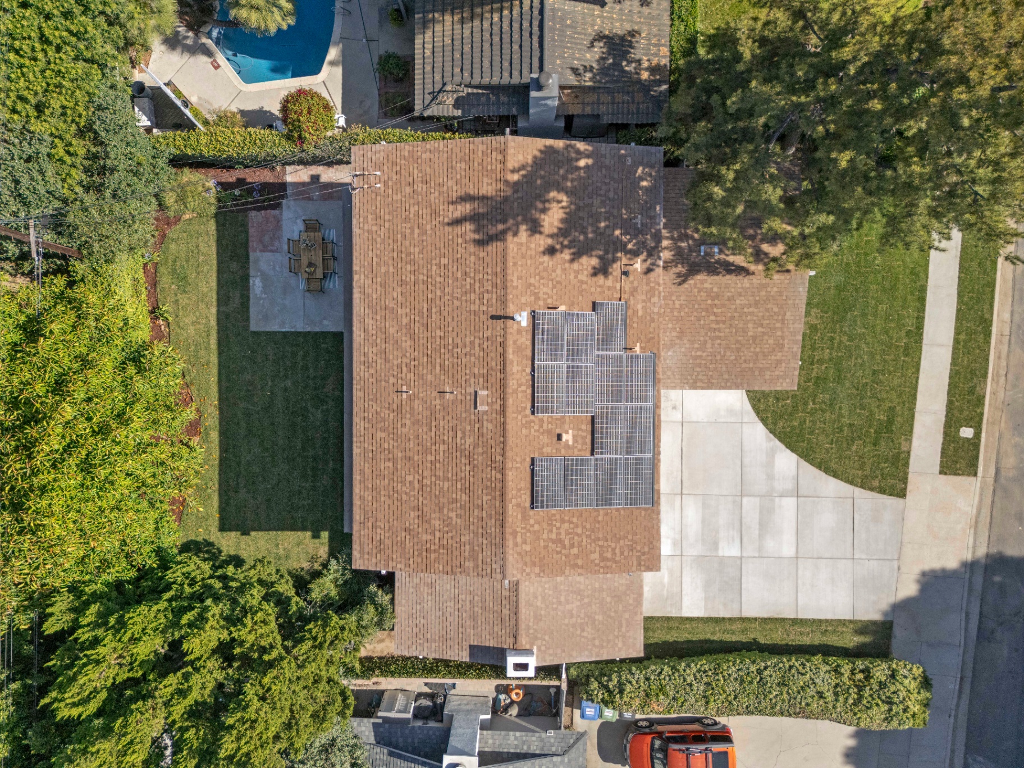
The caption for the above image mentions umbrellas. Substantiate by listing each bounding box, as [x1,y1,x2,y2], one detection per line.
[423,683,456,697]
